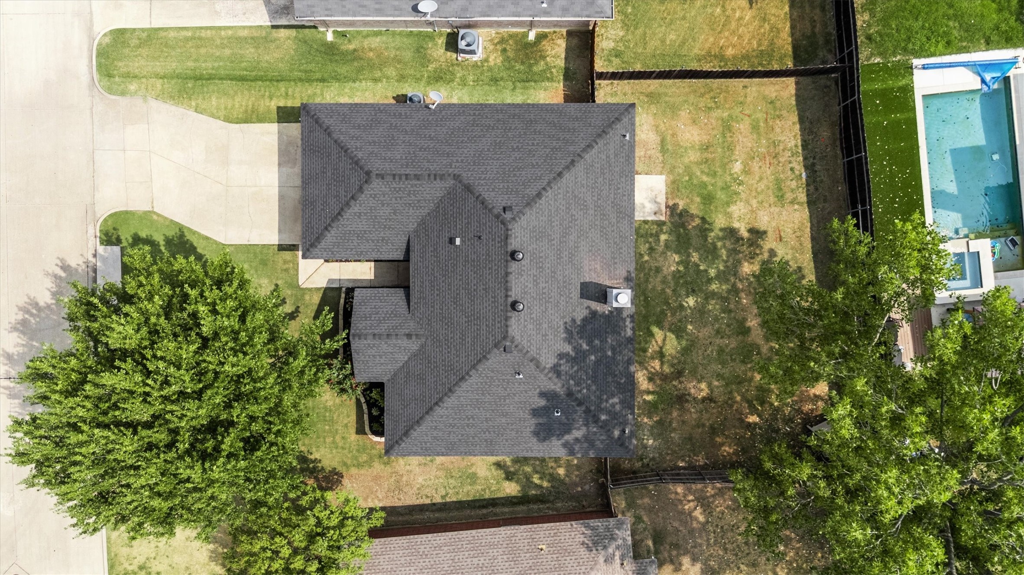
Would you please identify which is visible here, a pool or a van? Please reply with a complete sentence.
Of the two, only a pool appears.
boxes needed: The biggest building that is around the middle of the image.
[300,102,636,458]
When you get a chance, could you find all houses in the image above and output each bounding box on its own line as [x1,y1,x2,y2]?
[340,511,657,575]
[294,0,615,33]
[300,102,636,458]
